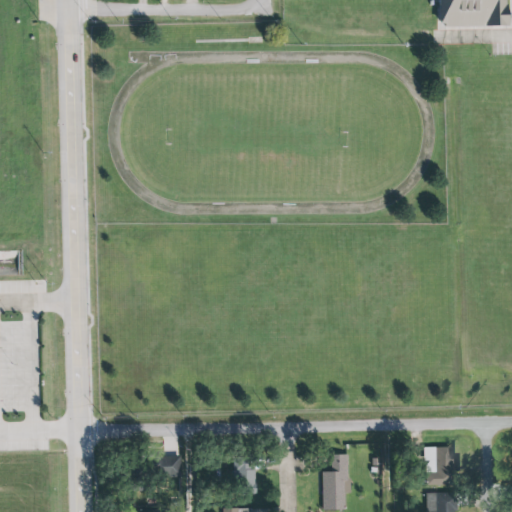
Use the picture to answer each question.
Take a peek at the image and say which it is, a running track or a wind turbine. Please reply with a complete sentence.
The one in the frame is a running track.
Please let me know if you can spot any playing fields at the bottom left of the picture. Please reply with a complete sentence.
No, there's no playing field to be seen at the bottom left of the picture.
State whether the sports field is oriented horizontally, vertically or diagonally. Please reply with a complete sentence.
What the image shows is the sports field lying horizontally.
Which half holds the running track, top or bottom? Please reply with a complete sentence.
It is in the top half that the running track appears.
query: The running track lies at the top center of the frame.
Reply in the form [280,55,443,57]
[108,51,435,214]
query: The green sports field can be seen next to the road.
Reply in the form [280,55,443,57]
[121,64,422,202]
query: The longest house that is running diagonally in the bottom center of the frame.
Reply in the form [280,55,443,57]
[234,463,258,494]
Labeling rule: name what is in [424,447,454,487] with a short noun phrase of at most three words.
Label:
house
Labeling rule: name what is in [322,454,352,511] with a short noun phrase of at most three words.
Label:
house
